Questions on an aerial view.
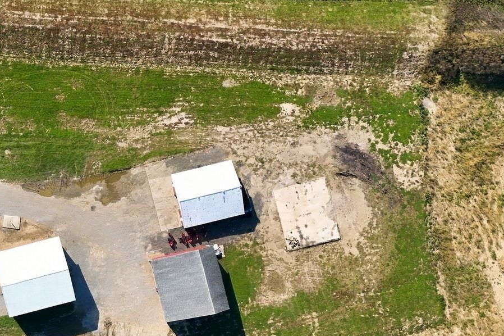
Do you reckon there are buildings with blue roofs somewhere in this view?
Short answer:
No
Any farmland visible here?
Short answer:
Yes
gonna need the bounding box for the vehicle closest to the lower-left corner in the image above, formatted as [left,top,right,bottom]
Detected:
[165,234,178,249]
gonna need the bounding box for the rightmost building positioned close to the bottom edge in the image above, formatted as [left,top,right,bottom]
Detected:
[147,244,229,323]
